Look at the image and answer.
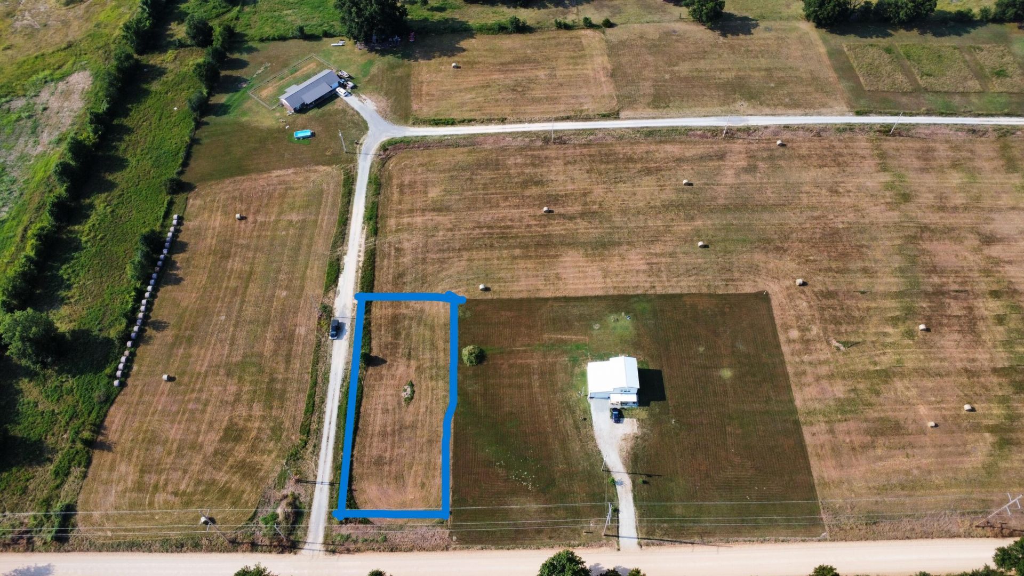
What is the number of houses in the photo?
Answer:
2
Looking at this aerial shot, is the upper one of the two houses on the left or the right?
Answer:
left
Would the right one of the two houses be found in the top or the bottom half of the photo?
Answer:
bottom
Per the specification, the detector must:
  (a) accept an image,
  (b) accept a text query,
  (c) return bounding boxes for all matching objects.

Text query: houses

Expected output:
[587,358,640,412]
[279,70,345,113]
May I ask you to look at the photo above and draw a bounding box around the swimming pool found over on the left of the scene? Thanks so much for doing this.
[294,129,313,142]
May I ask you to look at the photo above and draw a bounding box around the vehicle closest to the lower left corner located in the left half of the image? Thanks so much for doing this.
[328,319,340,339]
